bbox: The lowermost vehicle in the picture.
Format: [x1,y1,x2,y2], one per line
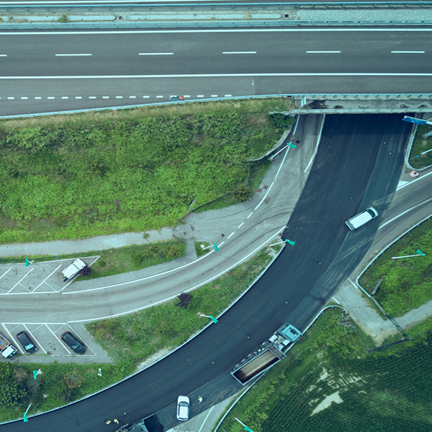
[176,394,190,420]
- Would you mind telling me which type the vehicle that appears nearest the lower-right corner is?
truck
